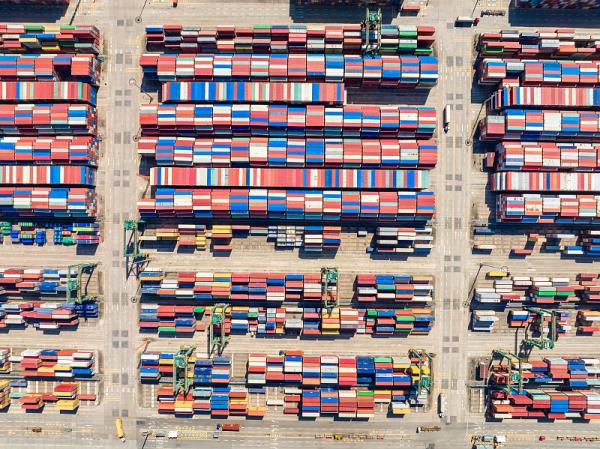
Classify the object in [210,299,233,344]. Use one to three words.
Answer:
container crane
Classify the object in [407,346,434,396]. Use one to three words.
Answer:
container crane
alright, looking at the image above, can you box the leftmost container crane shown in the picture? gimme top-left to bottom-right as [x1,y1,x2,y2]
[65,261,101,304]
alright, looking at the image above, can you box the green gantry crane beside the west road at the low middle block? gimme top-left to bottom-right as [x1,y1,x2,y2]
[122,218,153,259]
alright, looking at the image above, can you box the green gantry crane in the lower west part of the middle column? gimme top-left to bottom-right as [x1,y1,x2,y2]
[172,344,199,394]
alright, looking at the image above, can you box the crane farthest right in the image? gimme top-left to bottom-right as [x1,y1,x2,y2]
[520,303,557,349]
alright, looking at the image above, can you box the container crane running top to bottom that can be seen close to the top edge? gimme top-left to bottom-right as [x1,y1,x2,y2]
[362,7,382,60]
